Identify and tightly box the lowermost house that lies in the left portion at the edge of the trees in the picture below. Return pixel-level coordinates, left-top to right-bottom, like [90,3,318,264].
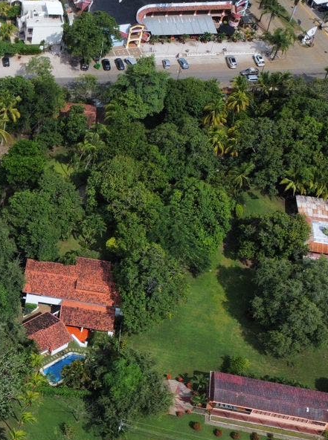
[14,252,117,366]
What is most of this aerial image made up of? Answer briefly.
trees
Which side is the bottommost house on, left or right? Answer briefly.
right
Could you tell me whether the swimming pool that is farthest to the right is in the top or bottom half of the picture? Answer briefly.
bottom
